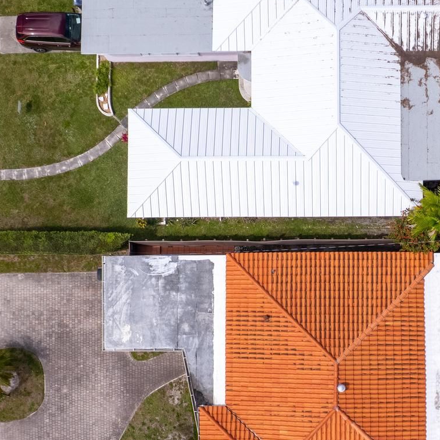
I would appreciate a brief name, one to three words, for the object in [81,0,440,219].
house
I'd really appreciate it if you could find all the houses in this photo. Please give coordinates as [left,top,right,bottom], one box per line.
[102,250,440,440]
[81,0,440,219]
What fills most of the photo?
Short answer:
buildings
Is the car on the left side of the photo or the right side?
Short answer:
left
